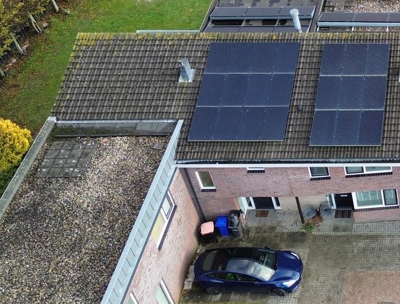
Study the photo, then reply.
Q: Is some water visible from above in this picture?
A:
No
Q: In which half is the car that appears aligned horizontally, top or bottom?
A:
bottom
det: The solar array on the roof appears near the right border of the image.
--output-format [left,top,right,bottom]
[308,41,391,145]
